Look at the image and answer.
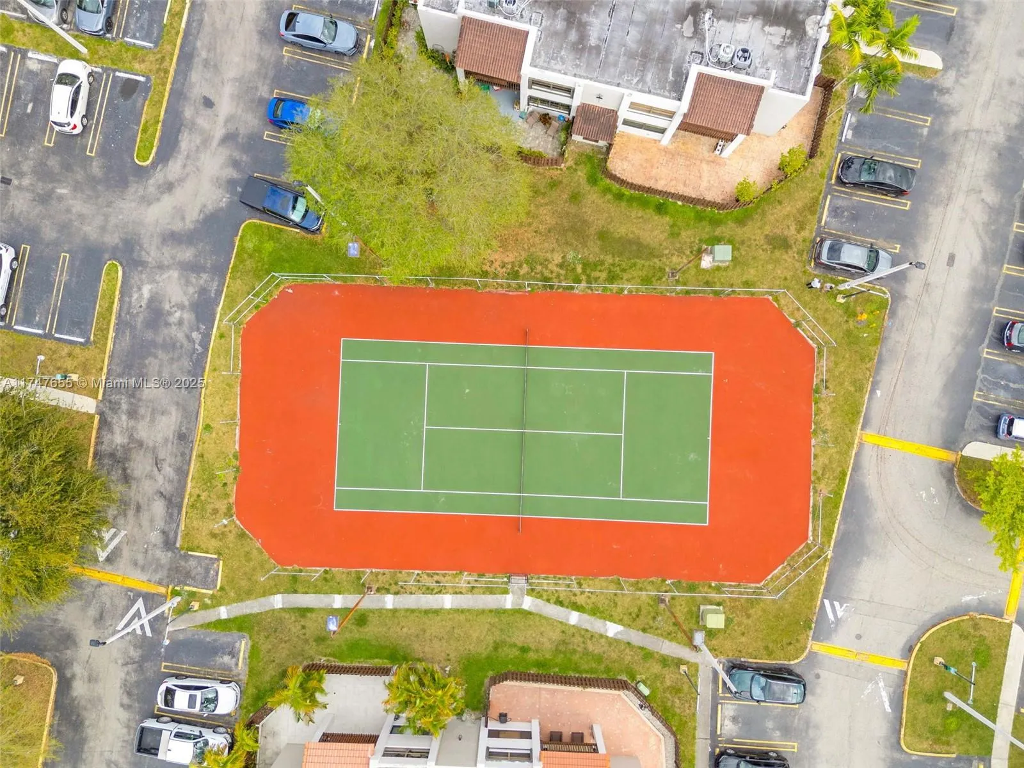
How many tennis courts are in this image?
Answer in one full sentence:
My tally gives 1 tennis court in this photo.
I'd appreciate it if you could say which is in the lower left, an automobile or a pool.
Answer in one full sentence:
You can see an automobile in the lower left.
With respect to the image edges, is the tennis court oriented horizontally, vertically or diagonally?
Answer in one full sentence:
The tennis court runs horizontally in the image.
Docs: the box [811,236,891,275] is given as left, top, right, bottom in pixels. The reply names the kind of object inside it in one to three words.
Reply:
car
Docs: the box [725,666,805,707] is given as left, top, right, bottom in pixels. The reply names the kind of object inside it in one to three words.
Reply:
car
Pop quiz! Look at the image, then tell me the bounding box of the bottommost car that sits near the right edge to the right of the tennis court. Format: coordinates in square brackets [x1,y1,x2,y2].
[996,415,1024,444]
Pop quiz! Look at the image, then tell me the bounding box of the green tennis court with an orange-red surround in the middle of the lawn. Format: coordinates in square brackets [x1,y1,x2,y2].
[233,284,817,585]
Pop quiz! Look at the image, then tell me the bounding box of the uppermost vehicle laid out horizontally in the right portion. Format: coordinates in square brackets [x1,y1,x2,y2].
[834,156,916,197]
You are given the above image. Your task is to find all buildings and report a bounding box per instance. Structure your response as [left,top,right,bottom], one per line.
[418,0,840,156]
[275,715,641,768]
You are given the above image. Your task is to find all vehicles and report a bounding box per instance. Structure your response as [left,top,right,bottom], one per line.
[280,12,358,58]
[834,156,916,197]
[50,62,94,132]
[711,749,791,768]
[267,97,338,136]
[237,175,328,236]
[725,666,805,707]
[1000,323,1024,354]
[137,717,237,768]
[811,236,891,275]
[996,415,1024,444]
[0,248,17,318]
[160,675,242,717]
[30,0,65,24]
[74,0,114,34]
